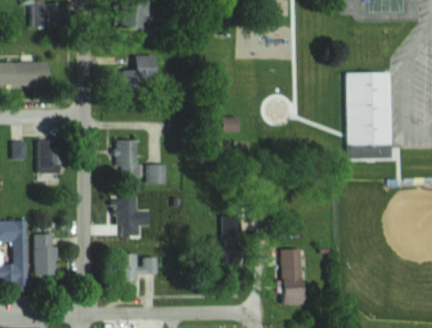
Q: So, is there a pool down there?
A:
No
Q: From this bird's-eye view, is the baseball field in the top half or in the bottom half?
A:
bottom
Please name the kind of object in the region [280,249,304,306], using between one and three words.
house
